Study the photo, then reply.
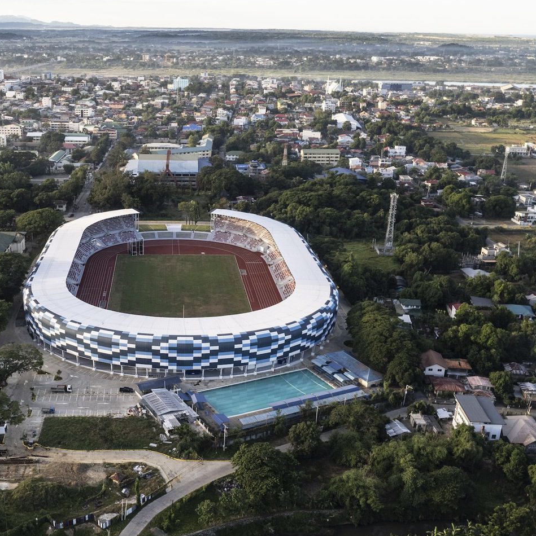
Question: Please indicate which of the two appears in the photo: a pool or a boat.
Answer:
pool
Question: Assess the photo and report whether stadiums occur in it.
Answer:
Yes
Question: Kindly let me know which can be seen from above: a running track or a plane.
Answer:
running track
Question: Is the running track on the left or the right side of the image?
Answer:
left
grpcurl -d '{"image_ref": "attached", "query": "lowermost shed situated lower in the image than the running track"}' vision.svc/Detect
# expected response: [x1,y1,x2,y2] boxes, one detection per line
[97,510,116,530]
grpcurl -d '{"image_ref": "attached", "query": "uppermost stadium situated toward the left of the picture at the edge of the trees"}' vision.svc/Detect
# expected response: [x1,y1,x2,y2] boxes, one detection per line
[20,207,342,380]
